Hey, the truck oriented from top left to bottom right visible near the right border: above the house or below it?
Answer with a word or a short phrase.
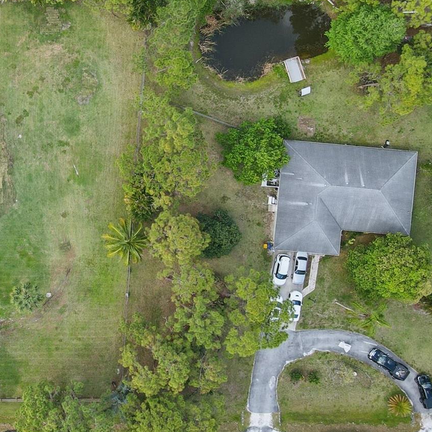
below it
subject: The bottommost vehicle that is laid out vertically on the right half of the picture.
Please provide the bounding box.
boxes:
[416,373,432,411]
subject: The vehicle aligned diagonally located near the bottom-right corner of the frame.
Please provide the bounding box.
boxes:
[366,348,411,381]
